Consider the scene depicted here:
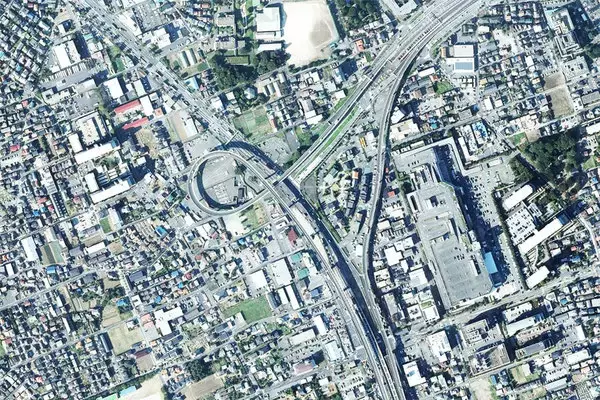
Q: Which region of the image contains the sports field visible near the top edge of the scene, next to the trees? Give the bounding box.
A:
[281,0,341,65]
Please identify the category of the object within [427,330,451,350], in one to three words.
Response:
building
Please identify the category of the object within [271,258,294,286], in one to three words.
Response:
building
